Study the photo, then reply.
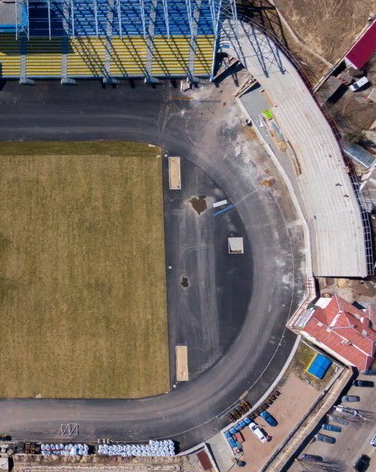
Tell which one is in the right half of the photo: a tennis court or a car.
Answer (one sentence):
It is a car that can be seen in the right half of the photo.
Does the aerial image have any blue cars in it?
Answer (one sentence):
Yes, there's a blue car here.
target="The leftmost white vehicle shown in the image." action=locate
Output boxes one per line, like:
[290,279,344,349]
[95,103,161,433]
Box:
[251,424,268,442]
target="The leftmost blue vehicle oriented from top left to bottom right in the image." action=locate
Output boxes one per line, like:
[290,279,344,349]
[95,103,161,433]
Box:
[261,411,279,428]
